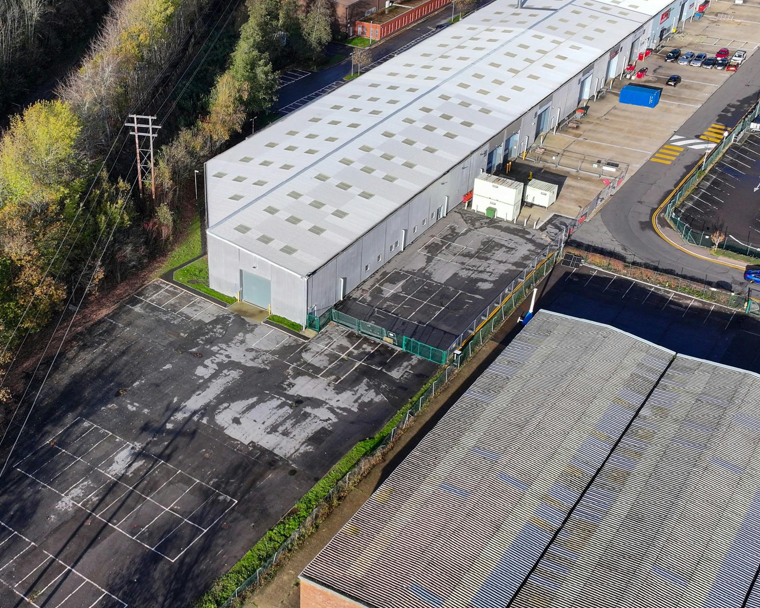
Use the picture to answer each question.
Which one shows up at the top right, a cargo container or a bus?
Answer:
cargo container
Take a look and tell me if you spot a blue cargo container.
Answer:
Yes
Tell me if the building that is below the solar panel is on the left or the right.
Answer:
right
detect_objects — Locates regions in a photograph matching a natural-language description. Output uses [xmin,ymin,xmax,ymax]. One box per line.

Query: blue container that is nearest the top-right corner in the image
[621,84,659,109]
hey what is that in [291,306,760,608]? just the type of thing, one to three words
building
